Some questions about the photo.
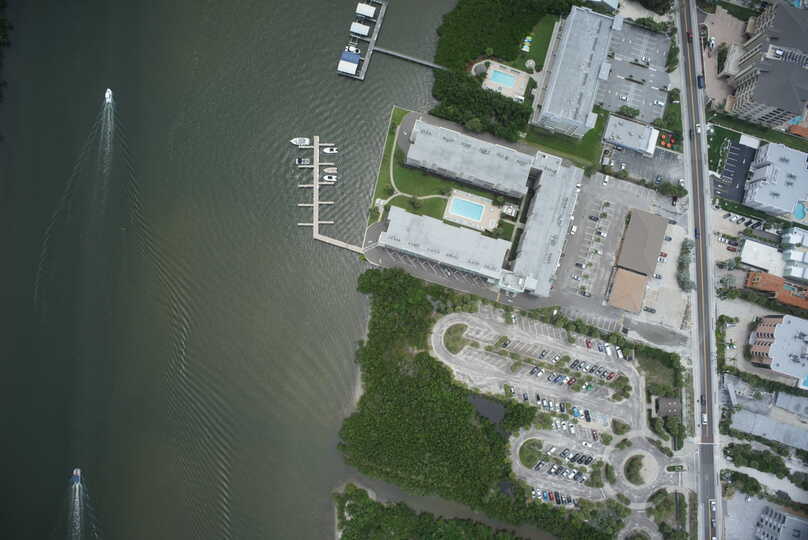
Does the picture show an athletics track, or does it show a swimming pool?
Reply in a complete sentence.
Visible in the photo is a swimming pool.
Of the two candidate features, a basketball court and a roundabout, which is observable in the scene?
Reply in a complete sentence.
Of the two, only a roundabout appears.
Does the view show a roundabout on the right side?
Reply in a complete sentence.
Yes, a roundabout can be seen on the right side.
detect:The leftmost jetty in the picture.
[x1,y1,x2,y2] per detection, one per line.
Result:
[298,135,363,253]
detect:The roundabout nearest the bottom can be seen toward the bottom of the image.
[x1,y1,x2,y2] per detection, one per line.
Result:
[614,516,658,540]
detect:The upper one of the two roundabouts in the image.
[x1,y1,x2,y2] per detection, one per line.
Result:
[612,438,671,501]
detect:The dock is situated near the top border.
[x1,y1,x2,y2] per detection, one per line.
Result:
[336,0,447,81]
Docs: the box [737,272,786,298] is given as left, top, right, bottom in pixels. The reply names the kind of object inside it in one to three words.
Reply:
house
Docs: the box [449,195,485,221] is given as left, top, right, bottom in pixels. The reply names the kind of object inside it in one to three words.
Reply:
swimming pool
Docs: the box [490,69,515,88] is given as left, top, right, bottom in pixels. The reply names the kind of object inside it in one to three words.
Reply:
swimming pool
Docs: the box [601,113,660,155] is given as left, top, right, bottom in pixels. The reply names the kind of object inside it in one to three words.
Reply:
building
